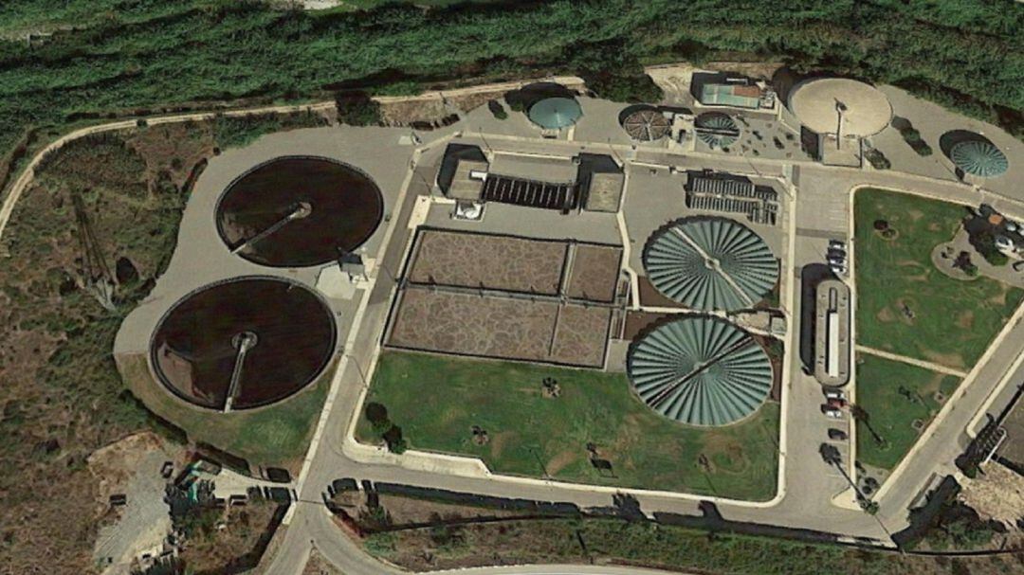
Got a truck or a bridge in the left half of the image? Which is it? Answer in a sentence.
The one visible in the left half of the image is a bridge.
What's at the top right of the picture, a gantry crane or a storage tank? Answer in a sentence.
The feature located at the top right of the picture is a storage tank.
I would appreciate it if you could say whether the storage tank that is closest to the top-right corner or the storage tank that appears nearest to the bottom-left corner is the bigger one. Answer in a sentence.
The storage tank that appears nearest to the bottom-left corner covers a greater area than the storage tank that is closest to the top-right corner.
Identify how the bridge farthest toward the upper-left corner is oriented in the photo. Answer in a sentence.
In this picture, the bridge farthest toward the upper-left corner is oriented diagonally.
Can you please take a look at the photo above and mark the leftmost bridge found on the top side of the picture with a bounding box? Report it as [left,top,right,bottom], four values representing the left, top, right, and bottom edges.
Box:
[231,198,307,253]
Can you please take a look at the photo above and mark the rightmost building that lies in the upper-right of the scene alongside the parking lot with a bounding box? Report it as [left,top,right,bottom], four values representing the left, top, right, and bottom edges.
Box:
[820,135,862,177]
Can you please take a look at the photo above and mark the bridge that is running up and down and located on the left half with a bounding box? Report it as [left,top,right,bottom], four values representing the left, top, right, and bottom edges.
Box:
[224,330,248,414]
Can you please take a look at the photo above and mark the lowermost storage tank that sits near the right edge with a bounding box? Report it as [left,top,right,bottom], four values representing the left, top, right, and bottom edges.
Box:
[949,141,1009,186]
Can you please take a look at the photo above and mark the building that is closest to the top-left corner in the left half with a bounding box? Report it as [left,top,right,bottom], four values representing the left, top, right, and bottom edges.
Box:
[342,262,365,286]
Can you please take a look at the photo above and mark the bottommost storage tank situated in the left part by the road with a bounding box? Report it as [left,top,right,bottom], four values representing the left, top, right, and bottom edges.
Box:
[149,273,338,415]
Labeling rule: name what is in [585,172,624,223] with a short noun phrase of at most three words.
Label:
building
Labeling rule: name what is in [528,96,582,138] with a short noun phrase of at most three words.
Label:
storage tank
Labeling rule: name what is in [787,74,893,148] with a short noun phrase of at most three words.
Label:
storage tank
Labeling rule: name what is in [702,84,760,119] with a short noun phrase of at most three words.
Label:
building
